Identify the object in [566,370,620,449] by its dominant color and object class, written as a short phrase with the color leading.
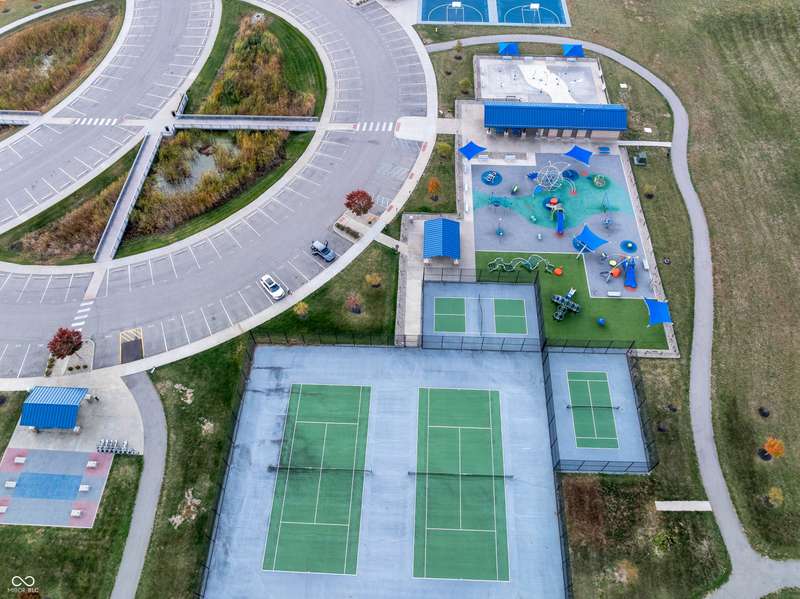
green tennis court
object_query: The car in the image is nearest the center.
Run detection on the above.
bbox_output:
[303,238,336,262]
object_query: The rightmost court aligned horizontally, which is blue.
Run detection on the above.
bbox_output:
[498,0,566,25]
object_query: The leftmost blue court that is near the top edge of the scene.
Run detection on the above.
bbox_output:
[422,0,488,23]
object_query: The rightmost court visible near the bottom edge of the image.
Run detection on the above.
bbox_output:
[408,387,513,582]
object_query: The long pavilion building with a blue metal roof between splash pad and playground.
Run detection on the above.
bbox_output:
[484,104,629,141]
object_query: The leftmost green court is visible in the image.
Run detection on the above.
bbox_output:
[262,383,373,575]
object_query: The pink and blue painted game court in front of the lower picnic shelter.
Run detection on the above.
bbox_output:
[0,448,114,527]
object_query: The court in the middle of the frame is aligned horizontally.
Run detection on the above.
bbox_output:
[434,291,528,336]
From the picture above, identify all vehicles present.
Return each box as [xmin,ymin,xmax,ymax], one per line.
[261,274,287,302]
[303,238,336,262]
